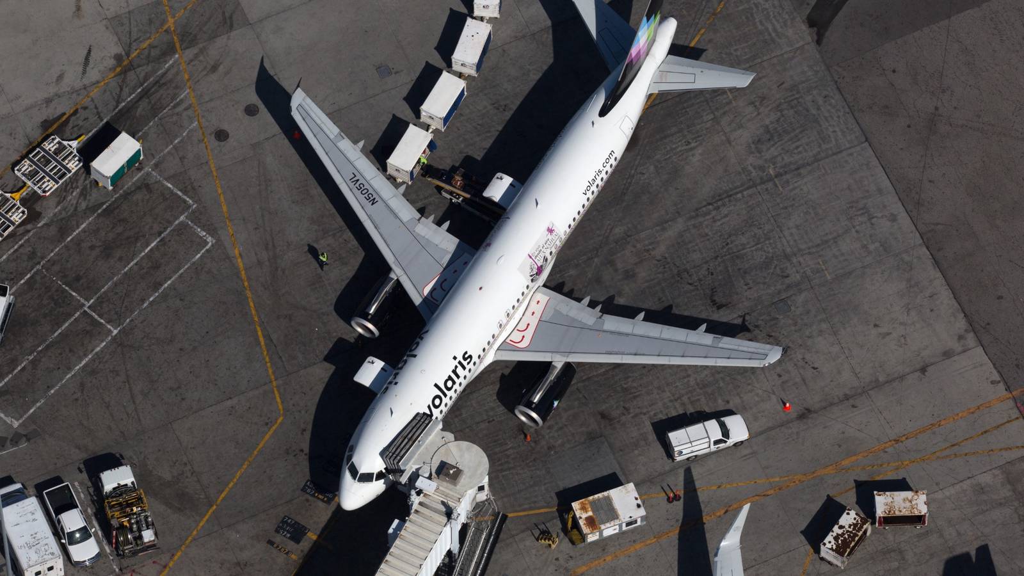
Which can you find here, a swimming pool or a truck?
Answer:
truck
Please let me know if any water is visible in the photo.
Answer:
No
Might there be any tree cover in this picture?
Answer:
No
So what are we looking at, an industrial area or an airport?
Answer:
airport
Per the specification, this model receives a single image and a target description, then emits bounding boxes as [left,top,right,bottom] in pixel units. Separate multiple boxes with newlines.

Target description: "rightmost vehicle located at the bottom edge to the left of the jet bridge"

[92,461,159,568]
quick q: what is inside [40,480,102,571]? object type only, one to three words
truck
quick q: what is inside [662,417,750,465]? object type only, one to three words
truck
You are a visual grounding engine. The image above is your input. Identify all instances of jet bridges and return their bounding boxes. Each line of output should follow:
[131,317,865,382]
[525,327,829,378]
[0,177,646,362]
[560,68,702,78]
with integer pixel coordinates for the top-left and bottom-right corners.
[373,412,492,576]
